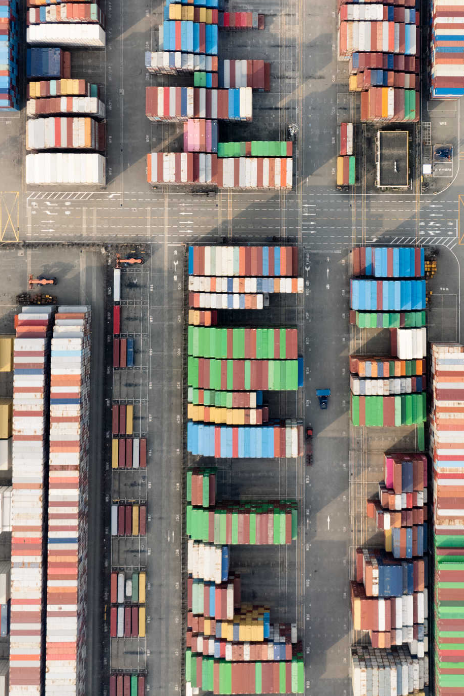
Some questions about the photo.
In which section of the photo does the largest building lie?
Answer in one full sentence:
The largest building sits in the top right section of the image.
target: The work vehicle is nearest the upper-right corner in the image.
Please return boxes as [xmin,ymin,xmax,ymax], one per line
[435,147,455,159]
